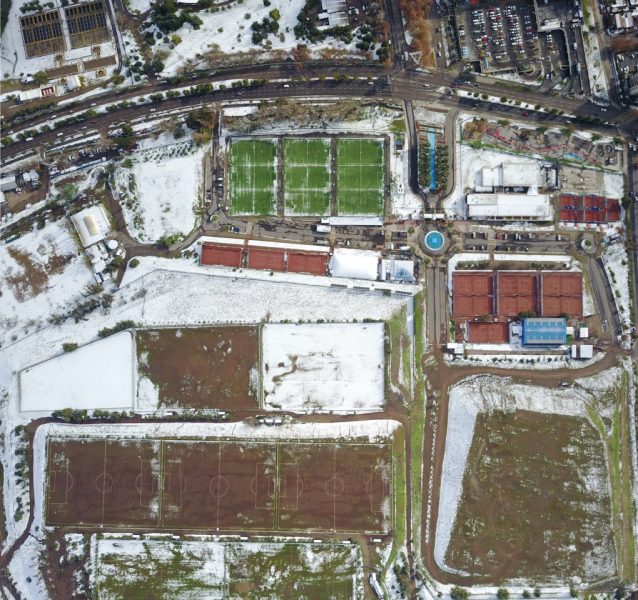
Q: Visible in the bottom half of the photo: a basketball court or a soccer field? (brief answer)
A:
soccer field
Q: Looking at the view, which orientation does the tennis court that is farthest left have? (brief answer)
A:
from left to right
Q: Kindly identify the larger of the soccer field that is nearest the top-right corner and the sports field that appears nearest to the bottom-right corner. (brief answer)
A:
the sports field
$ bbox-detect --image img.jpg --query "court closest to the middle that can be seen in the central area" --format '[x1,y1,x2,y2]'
[288,253,328,276]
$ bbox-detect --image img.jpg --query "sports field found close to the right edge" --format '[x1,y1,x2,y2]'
[445,409,616,584]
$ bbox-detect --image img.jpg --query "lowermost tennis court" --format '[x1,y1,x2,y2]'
[468,321,508,343]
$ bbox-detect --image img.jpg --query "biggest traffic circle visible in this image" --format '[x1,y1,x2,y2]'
[400,219,452,266]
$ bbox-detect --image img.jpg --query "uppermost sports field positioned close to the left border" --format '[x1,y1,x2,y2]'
[19,333,133,411]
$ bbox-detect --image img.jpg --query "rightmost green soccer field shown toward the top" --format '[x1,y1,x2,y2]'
[336,139,386,216]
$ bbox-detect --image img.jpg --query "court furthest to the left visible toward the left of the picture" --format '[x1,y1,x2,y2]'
[200,245,242,267]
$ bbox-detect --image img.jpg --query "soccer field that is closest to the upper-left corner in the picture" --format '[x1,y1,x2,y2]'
[229,138,279,216]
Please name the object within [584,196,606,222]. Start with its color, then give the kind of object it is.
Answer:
red tennis court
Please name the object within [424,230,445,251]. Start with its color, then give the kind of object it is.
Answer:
blue fountain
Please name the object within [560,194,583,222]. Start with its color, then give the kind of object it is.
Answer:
red tennis court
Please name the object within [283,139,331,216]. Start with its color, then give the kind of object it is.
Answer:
green soccer field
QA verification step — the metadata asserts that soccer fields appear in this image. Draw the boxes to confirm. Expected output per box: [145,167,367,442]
[283,139,331,216]
[229,138,279,216]
[45,439,161,528]
[227,543,363,600]
[264,323,384,412]
[160,439,276,531]
[275,441,394,533]
[336,139,386,216]
[136,325,259,411]
[92,541,226,600]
